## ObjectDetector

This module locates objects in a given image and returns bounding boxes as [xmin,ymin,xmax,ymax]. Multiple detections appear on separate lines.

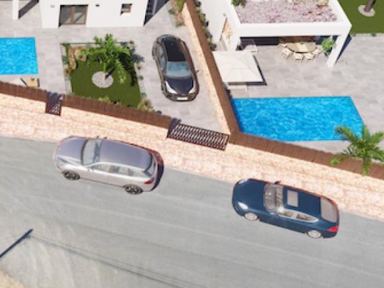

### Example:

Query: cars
[55,134,158,197]
[151,32,202,107]
[229,170,344,239]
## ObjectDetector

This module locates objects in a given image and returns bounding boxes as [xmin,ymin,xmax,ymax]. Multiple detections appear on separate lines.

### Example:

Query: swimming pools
[0,34,45,79]
[226,92,371,146]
